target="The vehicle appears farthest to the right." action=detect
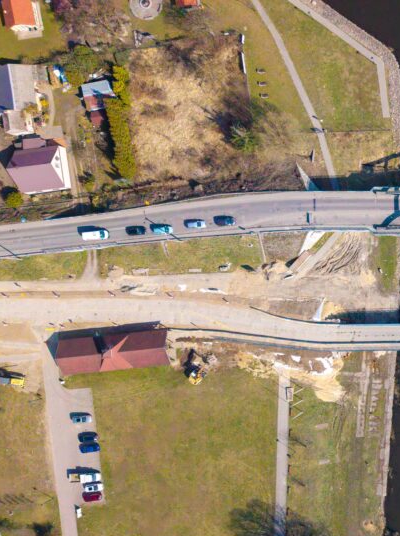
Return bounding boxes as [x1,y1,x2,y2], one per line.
[214,215,237,227]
